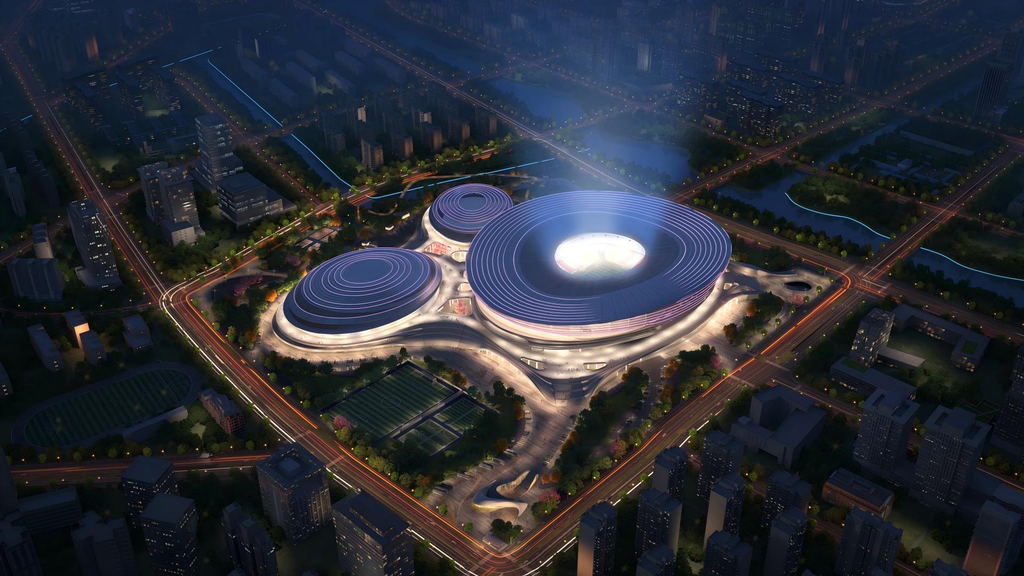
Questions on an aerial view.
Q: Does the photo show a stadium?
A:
Yes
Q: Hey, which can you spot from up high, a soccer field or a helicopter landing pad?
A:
soccer field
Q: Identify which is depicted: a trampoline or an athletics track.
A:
athletics track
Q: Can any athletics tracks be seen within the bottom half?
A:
Yes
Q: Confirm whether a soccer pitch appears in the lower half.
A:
Yes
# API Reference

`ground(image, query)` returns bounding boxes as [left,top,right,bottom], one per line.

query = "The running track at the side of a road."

[6,361,201,454]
